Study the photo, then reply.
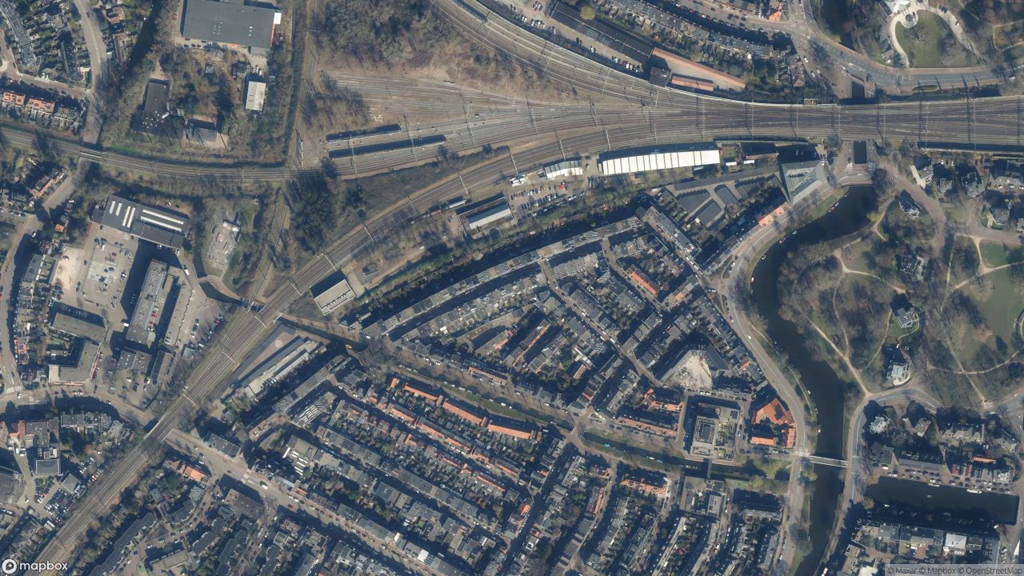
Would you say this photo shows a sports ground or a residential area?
residential area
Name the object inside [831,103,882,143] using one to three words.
bridge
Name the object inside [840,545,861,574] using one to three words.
building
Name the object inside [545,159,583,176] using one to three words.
shed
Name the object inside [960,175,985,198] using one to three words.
house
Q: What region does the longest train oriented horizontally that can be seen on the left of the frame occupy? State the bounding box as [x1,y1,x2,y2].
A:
[333,139,443,158]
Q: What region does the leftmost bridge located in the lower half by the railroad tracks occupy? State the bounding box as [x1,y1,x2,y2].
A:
[126,405,199,455]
